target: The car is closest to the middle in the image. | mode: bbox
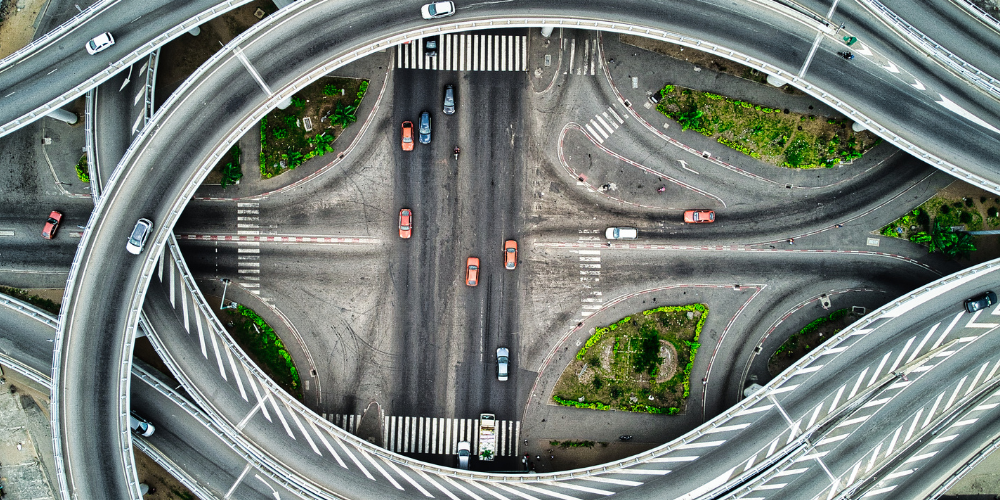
[504,240,519,270]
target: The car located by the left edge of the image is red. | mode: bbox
[43,210,63,240]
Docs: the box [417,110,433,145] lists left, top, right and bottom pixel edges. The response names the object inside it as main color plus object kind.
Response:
blue car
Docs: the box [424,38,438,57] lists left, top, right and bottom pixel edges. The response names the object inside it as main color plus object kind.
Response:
black car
